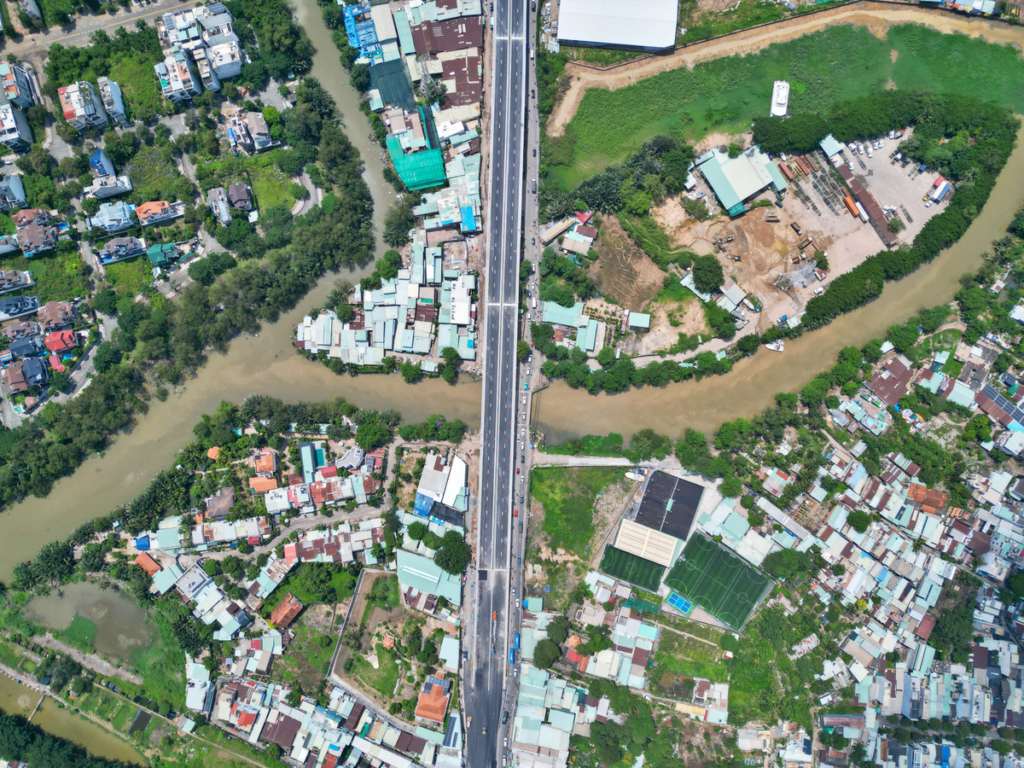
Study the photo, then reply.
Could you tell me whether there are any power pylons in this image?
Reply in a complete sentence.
Yes, this view includes a power pylon.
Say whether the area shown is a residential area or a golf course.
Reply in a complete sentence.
It's a residential area.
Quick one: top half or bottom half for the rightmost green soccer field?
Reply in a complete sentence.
The rightmost green soccer field is in the bottom half of the image.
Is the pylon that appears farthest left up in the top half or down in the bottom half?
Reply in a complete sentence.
The pylon that appears farthest left sits in the top half of the picture.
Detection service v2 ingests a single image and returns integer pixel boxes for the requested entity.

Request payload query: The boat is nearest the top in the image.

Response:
[772,81,789,116]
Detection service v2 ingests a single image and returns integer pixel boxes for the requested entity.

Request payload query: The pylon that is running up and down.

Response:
[410,52,442,108]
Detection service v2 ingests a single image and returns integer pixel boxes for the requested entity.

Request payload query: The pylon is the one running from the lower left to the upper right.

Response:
[769,261,823,299]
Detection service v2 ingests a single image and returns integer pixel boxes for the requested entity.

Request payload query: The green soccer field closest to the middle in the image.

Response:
[598,544,665,592]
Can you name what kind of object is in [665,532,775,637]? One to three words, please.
soccer field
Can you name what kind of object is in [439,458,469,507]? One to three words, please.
building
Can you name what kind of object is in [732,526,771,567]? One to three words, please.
house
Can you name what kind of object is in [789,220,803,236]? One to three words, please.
vehicle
